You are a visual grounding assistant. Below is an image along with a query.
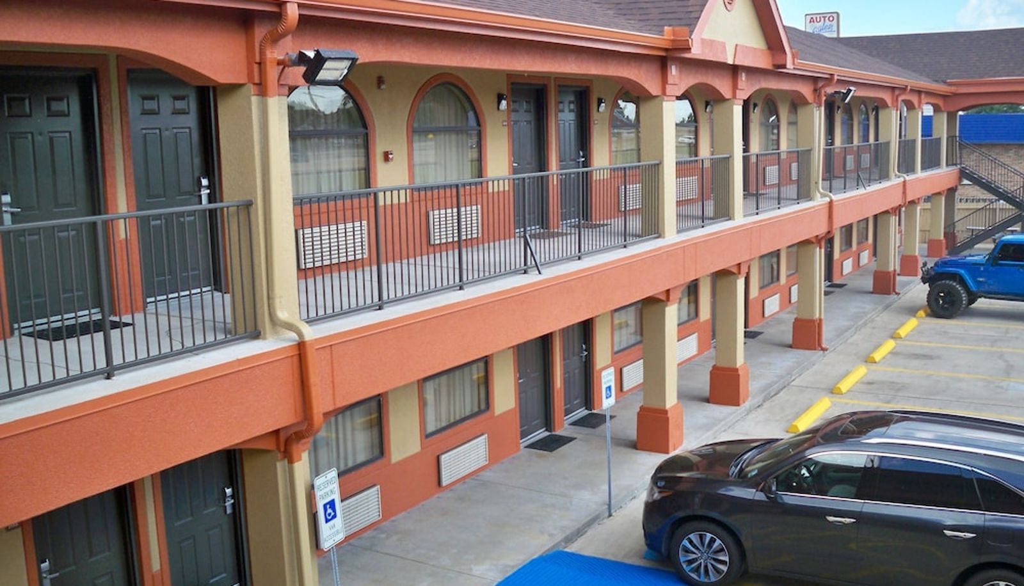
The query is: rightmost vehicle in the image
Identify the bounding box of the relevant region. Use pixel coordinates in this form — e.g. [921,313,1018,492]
[917,231,1024,319]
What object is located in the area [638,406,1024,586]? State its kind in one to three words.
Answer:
car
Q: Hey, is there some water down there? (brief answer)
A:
No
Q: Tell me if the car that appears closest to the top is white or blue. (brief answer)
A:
blue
